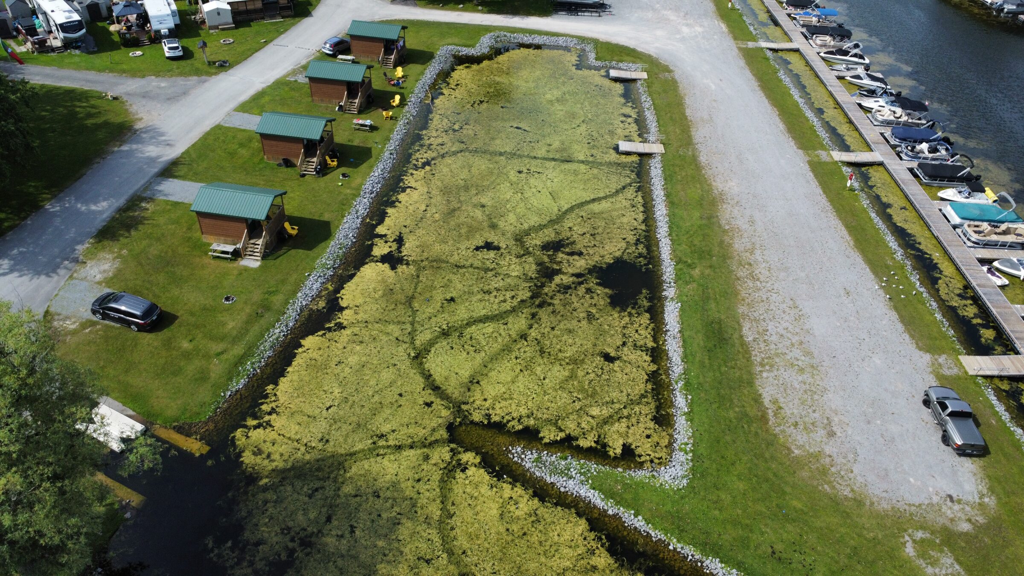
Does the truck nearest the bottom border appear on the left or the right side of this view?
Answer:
right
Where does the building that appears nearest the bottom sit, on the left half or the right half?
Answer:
left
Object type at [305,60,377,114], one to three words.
building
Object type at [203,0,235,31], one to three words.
shed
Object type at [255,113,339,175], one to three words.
building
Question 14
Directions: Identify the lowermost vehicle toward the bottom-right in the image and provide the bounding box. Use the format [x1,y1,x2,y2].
[926,385,993,456]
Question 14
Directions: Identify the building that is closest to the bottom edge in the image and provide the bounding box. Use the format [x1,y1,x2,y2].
[189,184,290,260]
